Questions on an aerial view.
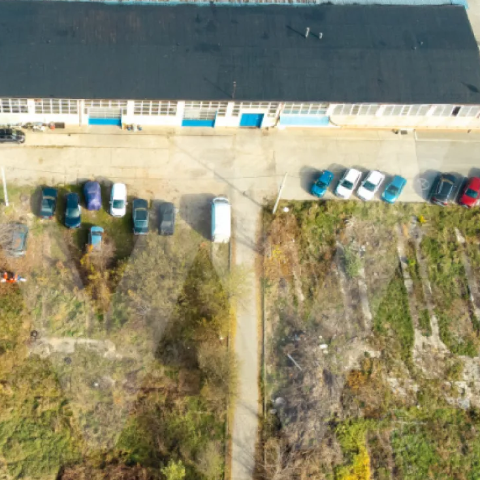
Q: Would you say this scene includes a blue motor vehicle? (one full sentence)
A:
Yes, this view includes a blue motor vehicle.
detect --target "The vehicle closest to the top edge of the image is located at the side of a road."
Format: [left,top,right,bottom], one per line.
[0,126,26,146]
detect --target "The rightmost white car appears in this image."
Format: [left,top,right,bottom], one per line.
[357,168,386,203]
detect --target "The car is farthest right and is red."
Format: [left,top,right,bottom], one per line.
[457,175,480,209]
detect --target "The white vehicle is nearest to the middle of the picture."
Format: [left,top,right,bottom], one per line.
[209,194,233,247]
